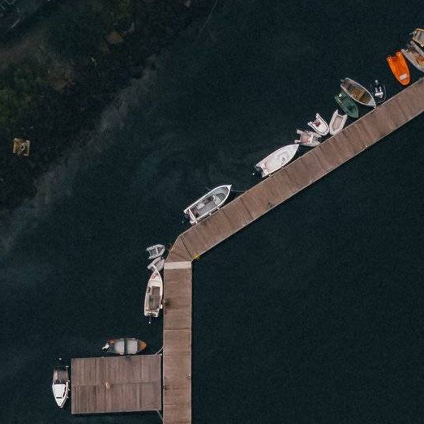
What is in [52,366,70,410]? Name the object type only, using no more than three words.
boat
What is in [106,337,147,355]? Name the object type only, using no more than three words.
boat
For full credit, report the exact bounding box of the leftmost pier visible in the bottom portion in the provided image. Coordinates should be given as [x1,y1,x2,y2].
[71,354,163,416]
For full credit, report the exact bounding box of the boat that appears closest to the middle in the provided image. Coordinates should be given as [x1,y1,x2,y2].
[181,184,232,227]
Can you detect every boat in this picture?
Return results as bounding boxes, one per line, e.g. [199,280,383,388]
[295,131,322,150]
[52,366,70,410]
[106,337,147,355]
[309,115,328,137]
[147,258,164,273]
[181,184,232,227]
[254,143,298,179]
[386,51,410,88]
[143,270,162,318]
[403,42,424,71]
[337,75,375,109]
[330,109,347,135]
[372,81,386,103]
[146,243,166,258]
[331,91,359,120]
[410,25,424,48]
